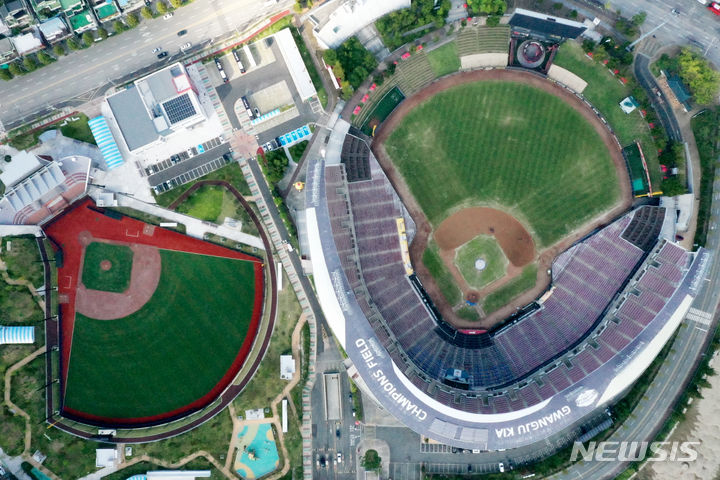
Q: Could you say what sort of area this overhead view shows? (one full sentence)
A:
The area seen from above is a sports ground.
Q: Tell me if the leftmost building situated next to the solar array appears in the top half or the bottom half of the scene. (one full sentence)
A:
You can find the leftmost building situated next to the solar array in the top half.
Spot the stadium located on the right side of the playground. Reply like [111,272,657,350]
[299,121,710,451]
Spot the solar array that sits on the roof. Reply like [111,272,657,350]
[162,93,196,124]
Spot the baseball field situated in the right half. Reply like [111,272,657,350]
[371,70,641,337]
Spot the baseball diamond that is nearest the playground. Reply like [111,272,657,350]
[47,198,262,423]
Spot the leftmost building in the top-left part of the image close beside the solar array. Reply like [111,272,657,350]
[107,84,170,155]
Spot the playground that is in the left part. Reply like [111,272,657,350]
[234,423,279,479]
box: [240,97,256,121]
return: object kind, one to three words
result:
vehicle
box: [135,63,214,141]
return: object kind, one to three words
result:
building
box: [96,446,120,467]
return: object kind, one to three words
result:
building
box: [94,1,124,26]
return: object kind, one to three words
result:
house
